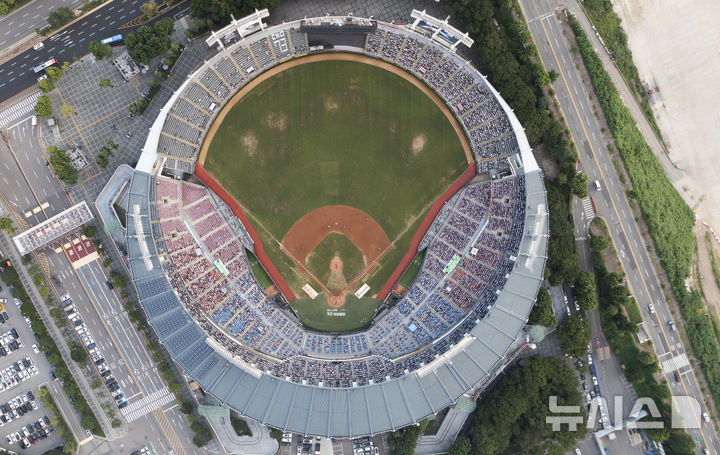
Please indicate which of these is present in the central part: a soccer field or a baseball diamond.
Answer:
baseball diamond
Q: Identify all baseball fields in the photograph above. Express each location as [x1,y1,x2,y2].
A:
[197,52,475,334]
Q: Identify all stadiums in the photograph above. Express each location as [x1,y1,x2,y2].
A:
[94,0,567,455]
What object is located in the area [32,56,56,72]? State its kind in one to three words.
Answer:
vehicle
